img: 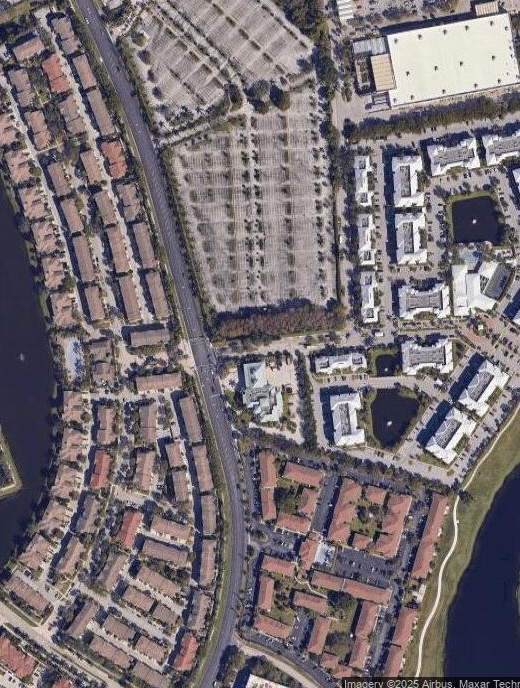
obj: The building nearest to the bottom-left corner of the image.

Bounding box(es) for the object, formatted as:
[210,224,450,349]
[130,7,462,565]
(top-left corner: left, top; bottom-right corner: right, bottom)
[0,639,32,675]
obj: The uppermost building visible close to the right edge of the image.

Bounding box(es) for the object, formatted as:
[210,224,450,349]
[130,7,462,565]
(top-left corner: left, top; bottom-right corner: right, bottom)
[387,14,520,107]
